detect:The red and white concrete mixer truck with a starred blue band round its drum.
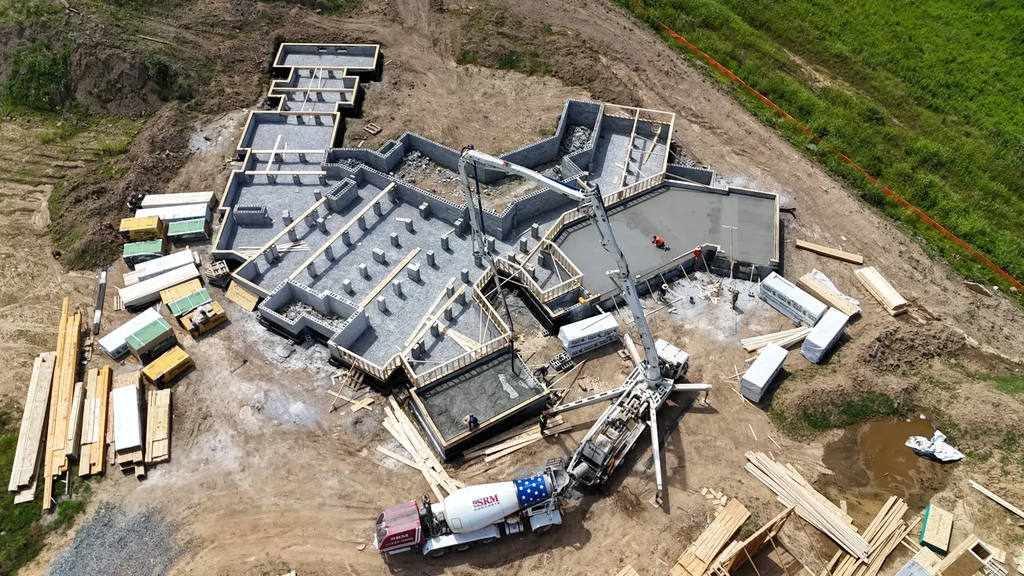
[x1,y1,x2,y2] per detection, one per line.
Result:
[370,452,585,565]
